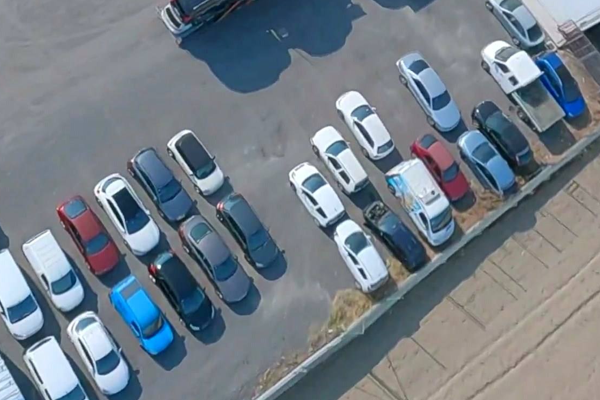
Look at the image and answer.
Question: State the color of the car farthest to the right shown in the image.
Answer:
blue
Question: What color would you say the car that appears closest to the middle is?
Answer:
white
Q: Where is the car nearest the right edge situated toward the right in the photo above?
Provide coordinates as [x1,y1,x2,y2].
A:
[536,51,585,116]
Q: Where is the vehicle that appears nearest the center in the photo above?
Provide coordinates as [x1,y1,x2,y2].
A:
[286,162,348,232]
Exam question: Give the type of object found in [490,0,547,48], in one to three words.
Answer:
car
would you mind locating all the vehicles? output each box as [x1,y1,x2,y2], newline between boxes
[216,191,278,271]
[149,250,216,335]
[335,93,394,163]
[395,55,457,135]
[286,162,348,232]
[473,100,532,169]
[0,249,42,342]
[108,274,173,359]
[331,219,391,295]
[95,175,159,258]
[310,126,371,197]
[490,0,547,48]
[57,197,118,278]
[21,230,85,317]
[536,51,585,116]
[130,147,191,224]
[362,202,426,277]
[451,132,510,198]
[66,314,126,399]
[479,42,567,135]
[375,156,456,250]
[20,336,87,400]
[169,130,224,198]
[410,135,467,203]
[178,216,246,307]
